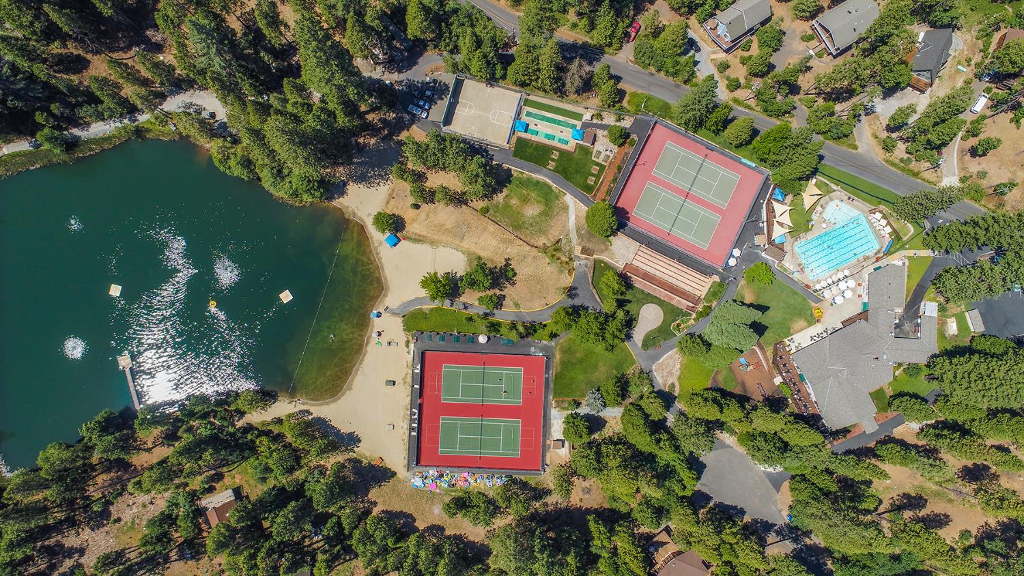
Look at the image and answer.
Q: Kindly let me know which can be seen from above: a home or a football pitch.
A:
home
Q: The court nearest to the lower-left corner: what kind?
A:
tennis court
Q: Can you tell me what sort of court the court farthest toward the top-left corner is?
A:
basketball court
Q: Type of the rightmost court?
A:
tennis court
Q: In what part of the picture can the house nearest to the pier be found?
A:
bottom left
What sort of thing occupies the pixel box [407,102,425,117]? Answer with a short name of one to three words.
vehicle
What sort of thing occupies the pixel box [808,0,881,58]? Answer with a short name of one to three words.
house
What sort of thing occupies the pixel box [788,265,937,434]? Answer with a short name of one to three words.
building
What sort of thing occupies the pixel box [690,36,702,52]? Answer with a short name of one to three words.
vehicle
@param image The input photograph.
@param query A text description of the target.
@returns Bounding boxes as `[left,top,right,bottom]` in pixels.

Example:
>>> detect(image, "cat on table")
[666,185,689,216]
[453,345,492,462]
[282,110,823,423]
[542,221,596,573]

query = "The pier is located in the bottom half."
[116,355,139,410]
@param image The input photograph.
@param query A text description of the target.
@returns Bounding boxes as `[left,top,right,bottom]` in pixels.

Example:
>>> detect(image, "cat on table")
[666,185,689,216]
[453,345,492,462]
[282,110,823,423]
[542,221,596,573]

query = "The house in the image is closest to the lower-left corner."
[199,491,240,526]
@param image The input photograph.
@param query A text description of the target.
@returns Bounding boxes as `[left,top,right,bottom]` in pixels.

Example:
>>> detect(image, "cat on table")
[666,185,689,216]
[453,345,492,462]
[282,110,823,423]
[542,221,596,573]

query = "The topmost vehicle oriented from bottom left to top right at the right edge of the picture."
[973,93,989,113]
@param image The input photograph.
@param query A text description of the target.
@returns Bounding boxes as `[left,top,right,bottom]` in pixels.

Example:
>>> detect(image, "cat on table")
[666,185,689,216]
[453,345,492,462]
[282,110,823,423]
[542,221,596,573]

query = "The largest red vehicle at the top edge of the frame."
[627,22,641,39]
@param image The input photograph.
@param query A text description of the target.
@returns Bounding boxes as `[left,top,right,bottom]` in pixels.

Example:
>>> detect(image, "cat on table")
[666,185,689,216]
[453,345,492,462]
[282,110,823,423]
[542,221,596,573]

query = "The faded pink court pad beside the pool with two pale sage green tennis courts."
[615,123,767,267]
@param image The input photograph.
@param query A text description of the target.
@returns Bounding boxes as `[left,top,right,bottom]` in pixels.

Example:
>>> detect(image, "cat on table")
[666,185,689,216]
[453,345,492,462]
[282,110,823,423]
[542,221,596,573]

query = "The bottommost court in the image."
[417,351,546,470]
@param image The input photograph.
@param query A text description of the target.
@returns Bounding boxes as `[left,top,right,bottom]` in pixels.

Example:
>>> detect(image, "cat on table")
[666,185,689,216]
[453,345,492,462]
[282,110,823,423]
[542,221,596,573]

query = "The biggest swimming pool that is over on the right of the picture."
[785,192,896,288]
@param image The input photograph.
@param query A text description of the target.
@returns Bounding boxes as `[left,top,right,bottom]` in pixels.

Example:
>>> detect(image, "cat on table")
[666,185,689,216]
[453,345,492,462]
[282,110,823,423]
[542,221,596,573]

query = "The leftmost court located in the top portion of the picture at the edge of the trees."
[443,77,522,145]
